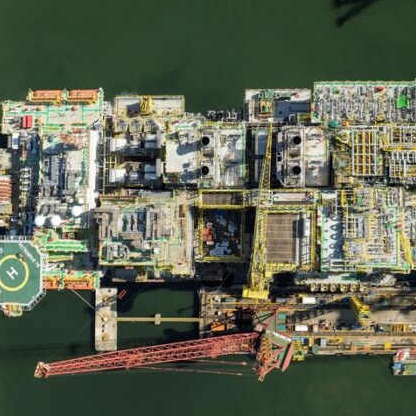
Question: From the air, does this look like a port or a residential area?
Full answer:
What you see here is a port.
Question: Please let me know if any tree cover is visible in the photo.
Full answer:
No, the scene doesn't show any tree cover.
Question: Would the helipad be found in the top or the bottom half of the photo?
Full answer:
It is in the bottom half that the helipad appears.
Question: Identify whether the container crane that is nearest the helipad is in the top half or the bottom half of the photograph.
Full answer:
The bottom half of the photo is where the container crane that is nearest the helipad is.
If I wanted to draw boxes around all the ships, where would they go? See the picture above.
[0,80,416,291]
[393,348,416,376]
